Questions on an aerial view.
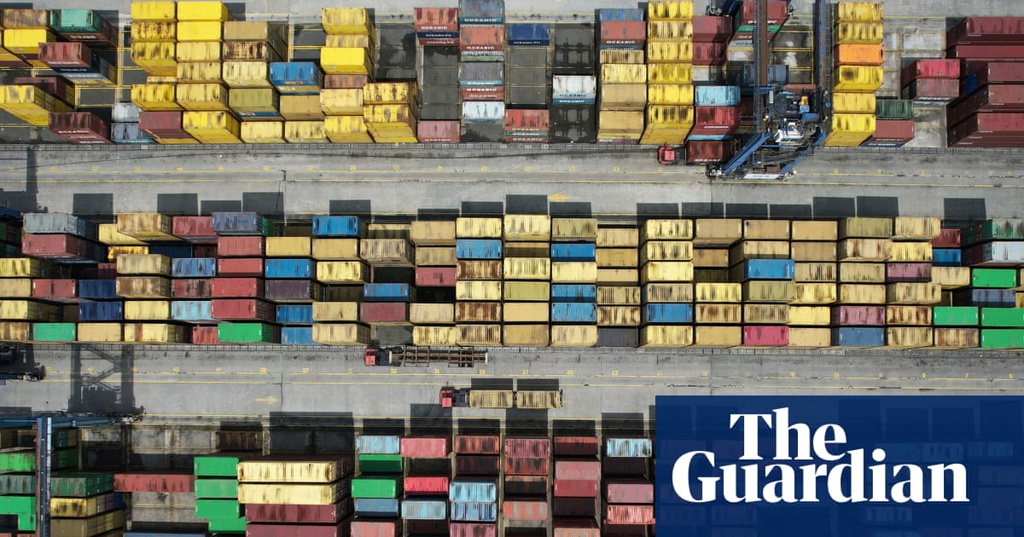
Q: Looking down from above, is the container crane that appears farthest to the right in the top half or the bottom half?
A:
top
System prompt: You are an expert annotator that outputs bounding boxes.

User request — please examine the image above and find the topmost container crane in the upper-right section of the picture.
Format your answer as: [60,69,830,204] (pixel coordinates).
[707,0,843,182]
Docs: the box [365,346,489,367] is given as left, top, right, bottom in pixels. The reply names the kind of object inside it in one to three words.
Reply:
truck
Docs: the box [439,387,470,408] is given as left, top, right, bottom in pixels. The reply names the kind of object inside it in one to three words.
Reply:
truck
